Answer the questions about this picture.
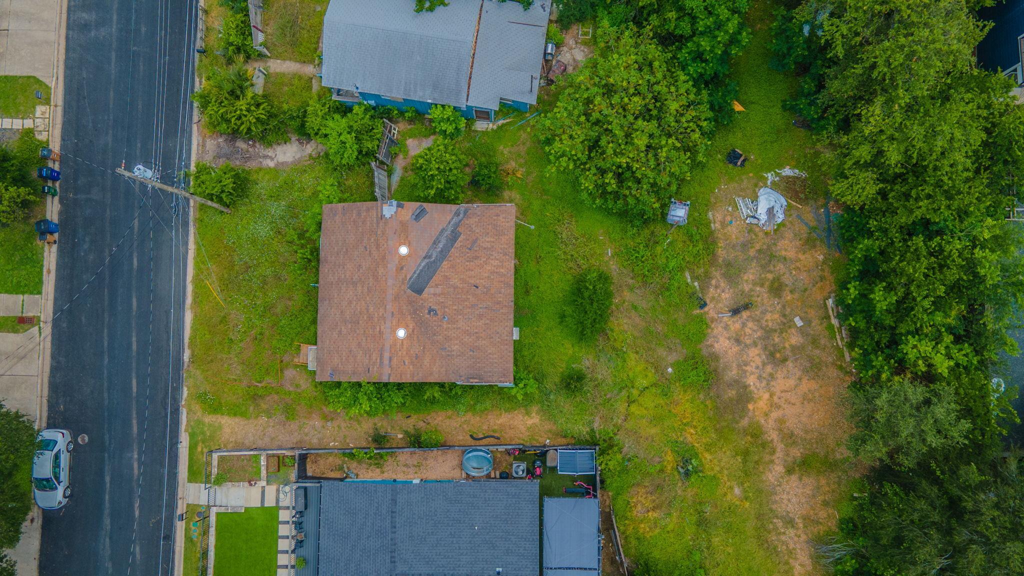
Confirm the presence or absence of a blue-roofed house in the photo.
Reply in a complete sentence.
Yes, you can see a blue-roofed house in this photo.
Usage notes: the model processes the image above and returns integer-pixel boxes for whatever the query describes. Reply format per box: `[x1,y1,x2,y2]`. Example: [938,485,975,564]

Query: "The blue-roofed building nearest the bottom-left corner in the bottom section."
[316,477,542,576]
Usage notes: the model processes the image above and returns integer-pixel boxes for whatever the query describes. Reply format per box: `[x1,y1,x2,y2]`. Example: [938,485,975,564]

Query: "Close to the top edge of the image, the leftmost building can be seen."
[316,0,550,134]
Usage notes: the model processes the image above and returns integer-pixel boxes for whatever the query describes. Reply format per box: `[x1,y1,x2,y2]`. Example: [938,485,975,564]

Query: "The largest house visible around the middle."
[311,200,535,386]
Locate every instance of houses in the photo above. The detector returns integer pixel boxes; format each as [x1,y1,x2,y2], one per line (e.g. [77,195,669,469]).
[311,200,535,386]
[316,477,542,576]
[949,0,1024,105]
[316,0,550,134]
